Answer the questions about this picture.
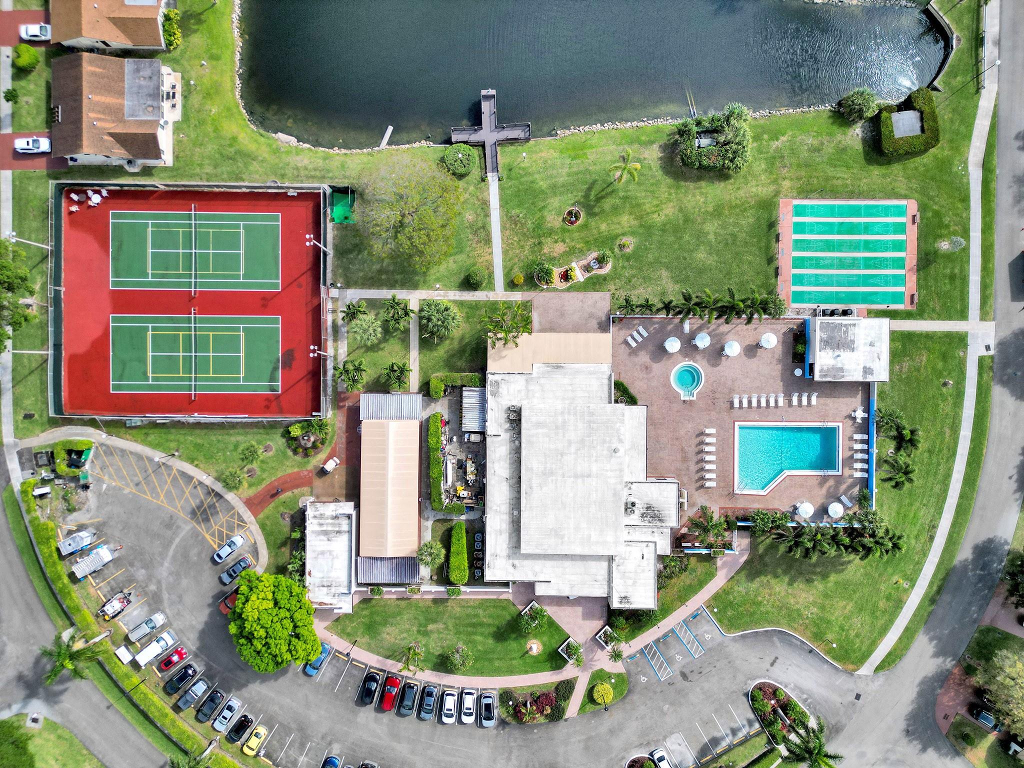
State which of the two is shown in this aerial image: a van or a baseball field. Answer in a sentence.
Of the two, only a van appears.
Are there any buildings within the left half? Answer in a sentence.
Yes, within the left half there is a building.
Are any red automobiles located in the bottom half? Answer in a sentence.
Yes, a red automobile appears in the bottom half.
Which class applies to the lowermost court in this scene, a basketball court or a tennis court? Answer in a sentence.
What you see as the lowermost court is a tennis court.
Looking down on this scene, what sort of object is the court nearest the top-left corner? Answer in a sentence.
What you see as the court nearest the top-left corner is a tennis court.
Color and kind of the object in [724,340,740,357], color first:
white umbrella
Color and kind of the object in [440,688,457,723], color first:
white car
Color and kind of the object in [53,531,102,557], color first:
white trailer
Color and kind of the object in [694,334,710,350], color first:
white umbrella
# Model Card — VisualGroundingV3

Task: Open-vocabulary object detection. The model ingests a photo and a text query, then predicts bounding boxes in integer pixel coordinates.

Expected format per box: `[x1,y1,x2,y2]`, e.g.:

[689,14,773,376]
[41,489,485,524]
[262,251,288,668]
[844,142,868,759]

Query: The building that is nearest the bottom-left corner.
[305,499,358,612]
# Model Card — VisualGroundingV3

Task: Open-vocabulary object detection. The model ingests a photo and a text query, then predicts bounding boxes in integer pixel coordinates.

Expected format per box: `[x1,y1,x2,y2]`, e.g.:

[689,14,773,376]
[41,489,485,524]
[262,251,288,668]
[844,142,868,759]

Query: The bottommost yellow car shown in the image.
[243,723,270,756]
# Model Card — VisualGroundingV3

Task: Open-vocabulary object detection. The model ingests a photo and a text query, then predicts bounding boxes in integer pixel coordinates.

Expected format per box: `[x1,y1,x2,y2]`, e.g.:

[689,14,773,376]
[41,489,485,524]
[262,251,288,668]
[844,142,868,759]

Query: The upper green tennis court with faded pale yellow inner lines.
[109,203,280,297]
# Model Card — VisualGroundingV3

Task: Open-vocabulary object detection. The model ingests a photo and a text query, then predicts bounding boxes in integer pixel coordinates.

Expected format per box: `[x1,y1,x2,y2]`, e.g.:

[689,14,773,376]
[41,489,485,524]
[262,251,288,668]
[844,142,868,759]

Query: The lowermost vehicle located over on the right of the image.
[651,745,676,768]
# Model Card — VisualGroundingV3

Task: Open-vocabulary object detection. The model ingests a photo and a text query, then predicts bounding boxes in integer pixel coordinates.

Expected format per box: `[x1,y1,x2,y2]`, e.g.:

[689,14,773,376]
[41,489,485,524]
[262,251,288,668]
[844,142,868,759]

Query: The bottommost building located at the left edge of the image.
[51,53,167,162]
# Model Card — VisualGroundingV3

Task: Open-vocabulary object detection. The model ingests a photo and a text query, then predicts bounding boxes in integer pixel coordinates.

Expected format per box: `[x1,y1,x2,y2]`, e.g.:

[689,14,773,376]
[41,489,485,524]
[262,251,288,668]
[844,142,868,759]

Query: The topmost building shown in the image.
[54,0,170,52]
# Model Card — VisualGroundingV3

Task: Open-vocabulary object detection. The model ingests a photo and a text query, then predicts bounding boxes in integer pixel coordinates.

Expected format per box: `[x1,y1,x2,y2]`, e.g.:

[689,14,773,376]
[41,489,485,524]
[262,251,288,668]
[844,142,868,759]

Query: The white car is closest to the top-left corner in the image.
[21,24,54,42]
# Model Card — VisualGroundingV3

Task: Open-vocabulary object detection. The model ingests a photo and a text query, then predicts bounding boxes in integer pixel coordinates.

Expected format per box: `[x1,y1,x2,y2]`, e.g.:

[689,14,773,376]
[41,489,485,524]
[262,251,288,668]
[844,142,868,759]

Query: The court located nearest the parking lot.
[109,308,280,399]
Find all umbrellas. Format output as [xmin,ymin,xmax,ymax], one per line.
[760,333,777,349]
[827,502,843,518]
[724,340,740,357]
[694,334,710,350]
[797,502,813,518]
[664,337,681,353]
